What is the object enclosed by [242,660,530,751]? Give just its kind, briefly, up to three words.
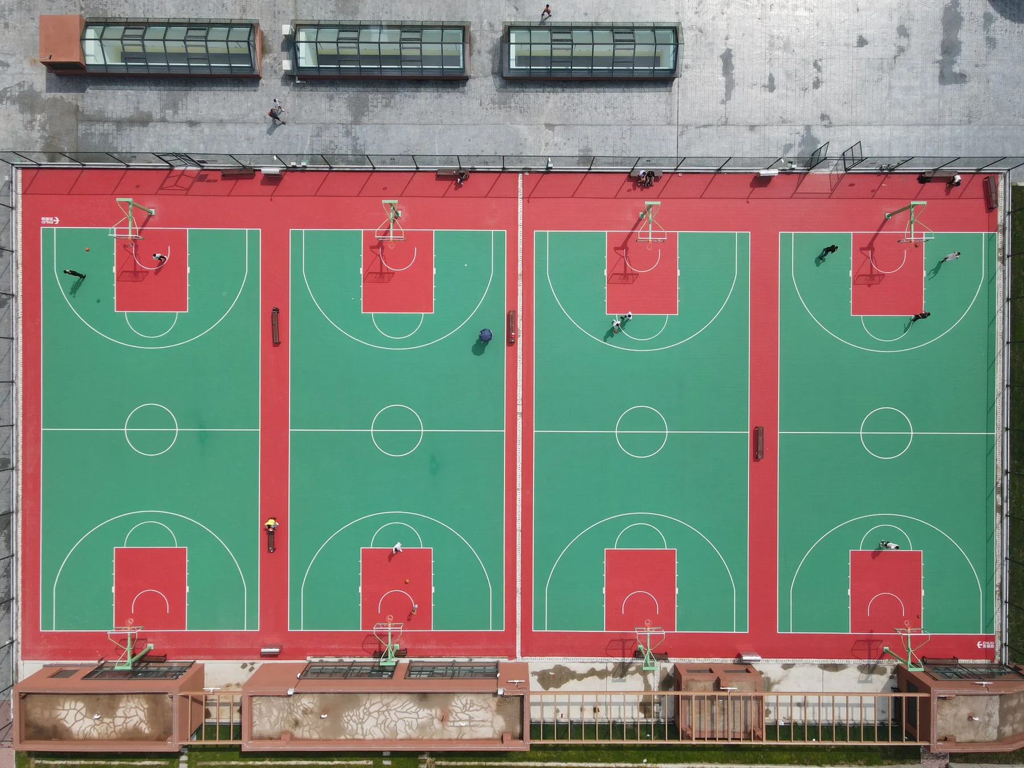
building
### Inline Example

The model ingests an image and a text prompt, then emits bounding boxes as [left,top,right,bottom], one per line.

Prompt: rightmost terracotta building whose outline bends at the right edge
[899,655,1024,753]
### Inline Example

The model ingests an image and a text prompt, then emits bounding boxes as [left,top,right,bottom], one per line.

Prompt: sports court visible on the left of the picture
[22,169,518,660]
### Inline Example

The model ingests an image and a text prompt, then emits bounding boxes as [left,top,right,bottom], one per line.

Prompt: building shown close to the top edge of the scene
[40,15,89,73]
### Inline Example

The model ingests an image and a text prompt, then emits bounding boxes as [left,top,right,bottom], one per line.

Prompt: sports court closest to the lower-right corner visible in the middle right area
[521,173,999,659]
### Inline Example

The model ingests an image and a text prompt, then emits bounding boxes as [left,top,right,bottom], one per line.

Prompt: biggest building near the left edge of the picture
[13,661,203,751]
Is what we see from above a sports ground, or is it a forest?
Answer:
sports ground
